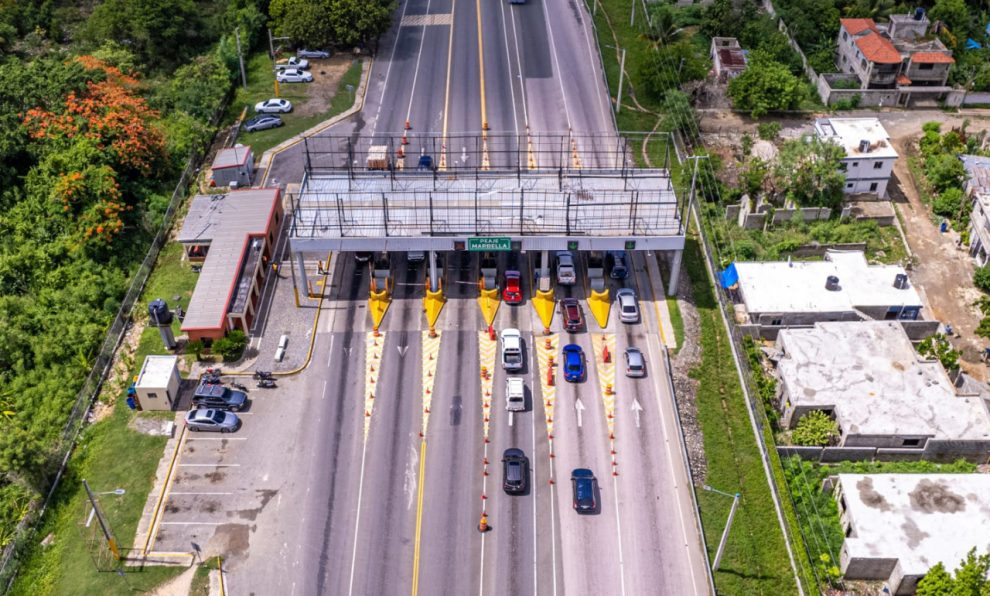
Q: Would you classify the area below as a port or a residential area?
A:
residential area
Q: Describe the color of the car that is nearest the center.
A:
red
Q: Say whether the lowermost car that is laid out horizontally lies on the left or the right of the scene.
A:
left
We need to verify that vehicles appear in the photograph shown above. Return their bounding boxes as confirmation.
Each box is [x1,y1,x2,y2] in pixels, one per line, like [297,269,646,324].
[569,469,598,517]
[190,386,248,413]
[624,349,648,380]
[503,277,523,305]
[255,377,277,387]
[194,372,217,383]
[555,252,577,286]
[616,291,640,323]
[255,99,291,113]
[501,451,527,496]
[405,250,423,263]
[275,56,309,73]
[183,411,241,436]
[229,381,247,392]
[202,366,223,376]
[562,348,585,383]
[503,377,526,414]
[253,369,275,378]
[560,300,583,333]
[297,46,329,60]
[606,251,628,280]
[499,332,523,372]
[277,69,311,84]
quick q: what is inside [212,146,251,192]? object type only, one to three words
shed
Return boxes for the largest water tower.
[146,295,177,350]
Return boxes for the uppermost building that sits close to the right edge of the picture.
[835,15,960,111]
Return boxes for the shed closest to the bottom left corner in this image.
[134,354,182,410]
